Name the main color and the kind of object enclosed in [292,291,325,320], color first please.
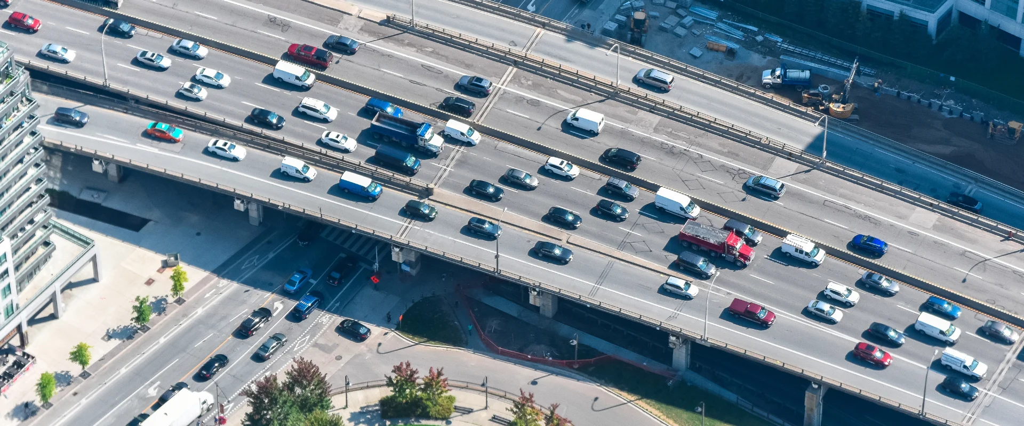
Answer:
blue car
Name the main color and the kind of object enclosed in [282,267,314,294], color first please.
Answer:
blue car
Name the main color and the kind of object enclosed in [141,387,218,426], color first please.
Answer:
white truck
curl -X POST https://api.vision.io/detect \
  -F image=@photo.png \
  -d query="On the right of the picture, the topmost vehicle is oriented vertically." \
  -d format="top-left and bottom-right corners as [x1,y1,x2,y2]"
[629,9,648,55]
